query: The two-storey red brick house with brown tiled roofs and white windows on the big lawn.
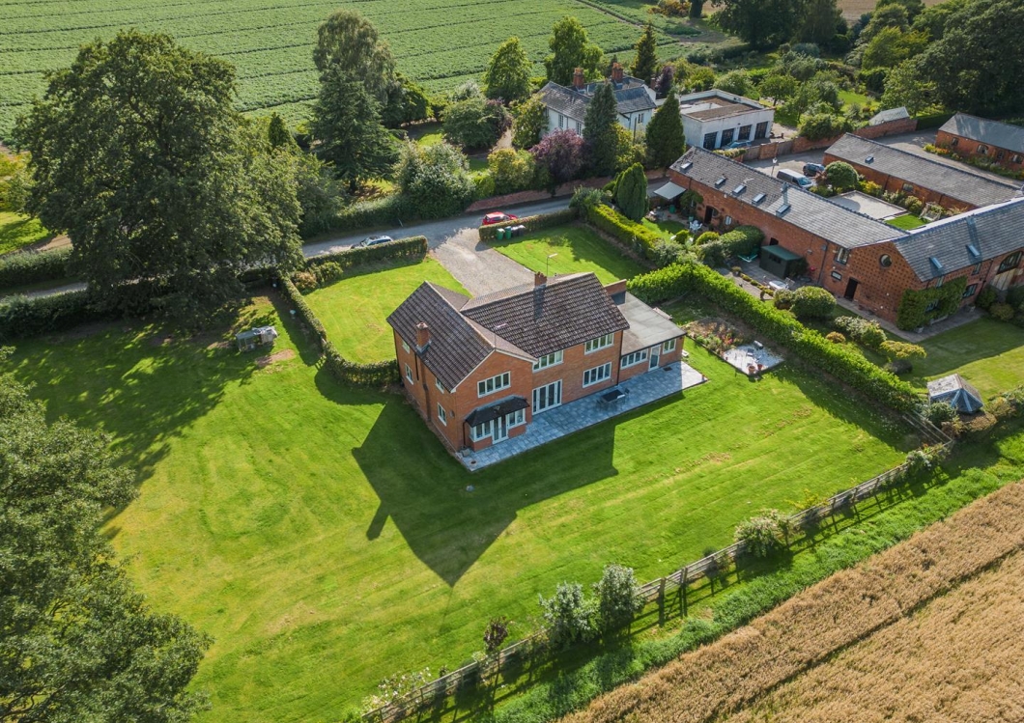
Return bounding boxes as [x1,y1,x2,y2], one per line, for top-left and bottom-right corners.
[387,271,690,451]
